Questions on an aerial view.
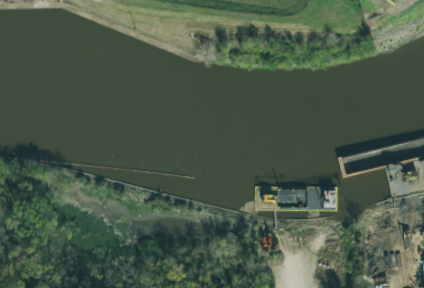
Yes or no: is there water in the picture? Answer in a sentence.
Yes, water shows up in the scene.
